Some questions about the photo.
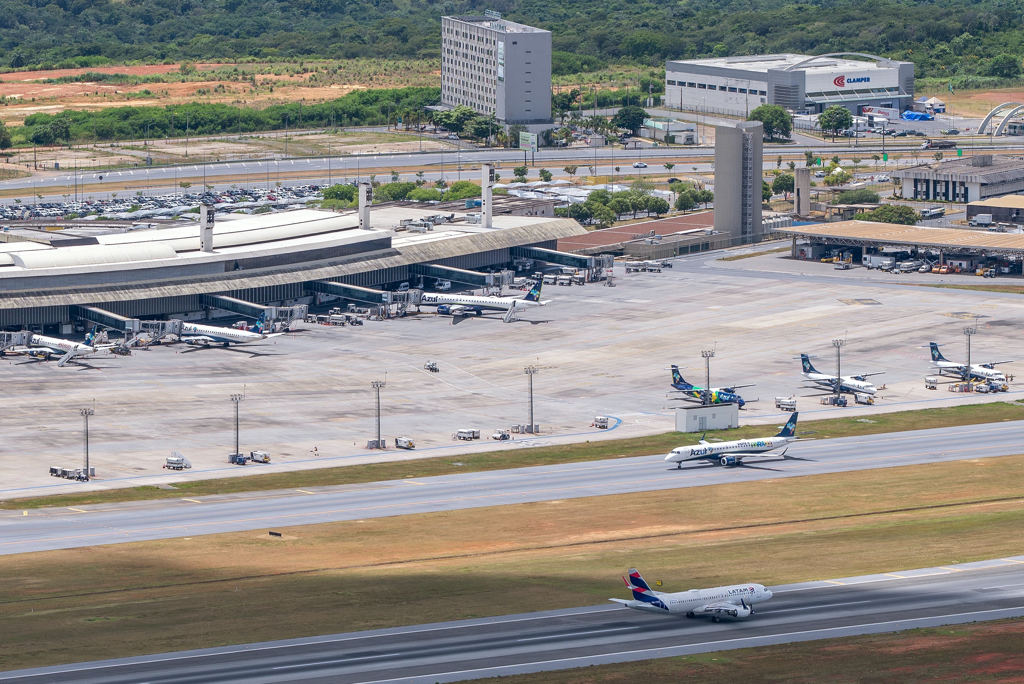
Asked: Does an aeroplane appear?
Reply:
Yes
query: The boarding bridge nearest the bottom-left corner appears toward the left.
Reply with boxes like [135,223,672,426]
[0,330,29,364]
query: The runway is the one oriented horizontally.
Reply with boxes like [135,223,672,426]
[0,564,1024,684]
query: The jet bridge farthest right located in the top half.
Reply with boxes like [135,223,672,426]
[518,246,616,286]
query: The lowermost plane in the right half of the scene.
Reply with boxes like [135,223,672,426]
[608,566,775,621]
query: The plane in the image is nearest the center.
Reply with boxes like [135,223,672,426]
[414,276,550,315]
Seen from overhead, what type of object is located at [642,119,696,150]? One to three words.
building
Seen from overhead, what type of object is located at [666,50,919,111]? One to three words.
building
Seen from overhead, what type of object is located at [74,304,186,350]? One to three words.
jet bridge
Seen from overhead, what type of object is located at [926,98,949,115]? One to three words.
tent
